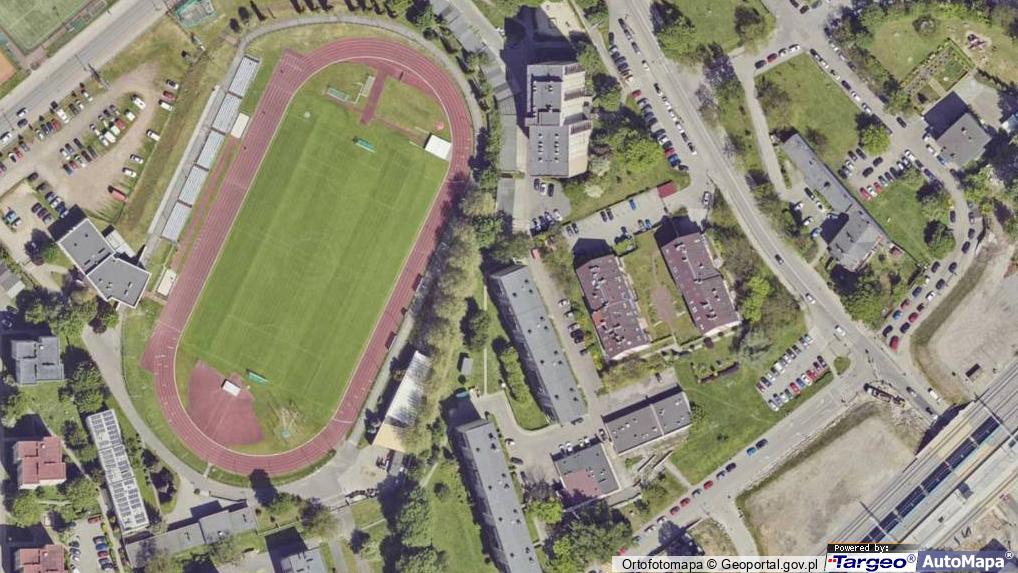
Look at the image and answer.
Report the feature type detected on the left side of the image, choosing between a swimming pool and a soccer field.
soccer field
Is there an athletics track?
Yes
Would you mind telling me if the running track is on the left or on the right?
left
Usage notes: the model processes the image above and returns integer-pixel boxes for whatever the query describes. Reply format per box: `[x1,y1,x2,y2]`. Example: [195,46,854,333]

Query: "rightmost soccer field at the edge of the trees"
[174,56,453,456]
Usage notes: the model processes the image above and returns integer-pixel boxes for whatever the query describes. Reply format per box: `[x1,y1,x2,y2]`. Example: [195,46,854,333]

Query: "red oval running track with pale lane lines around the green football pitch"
[137,37,472,476]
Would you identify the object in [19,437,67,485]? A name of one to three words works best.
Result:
house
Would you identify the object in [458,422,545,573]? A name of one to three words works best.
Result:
building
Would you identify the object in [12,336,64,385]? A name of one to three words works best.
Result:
house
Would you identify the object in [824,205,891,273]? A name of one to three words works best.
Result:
building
